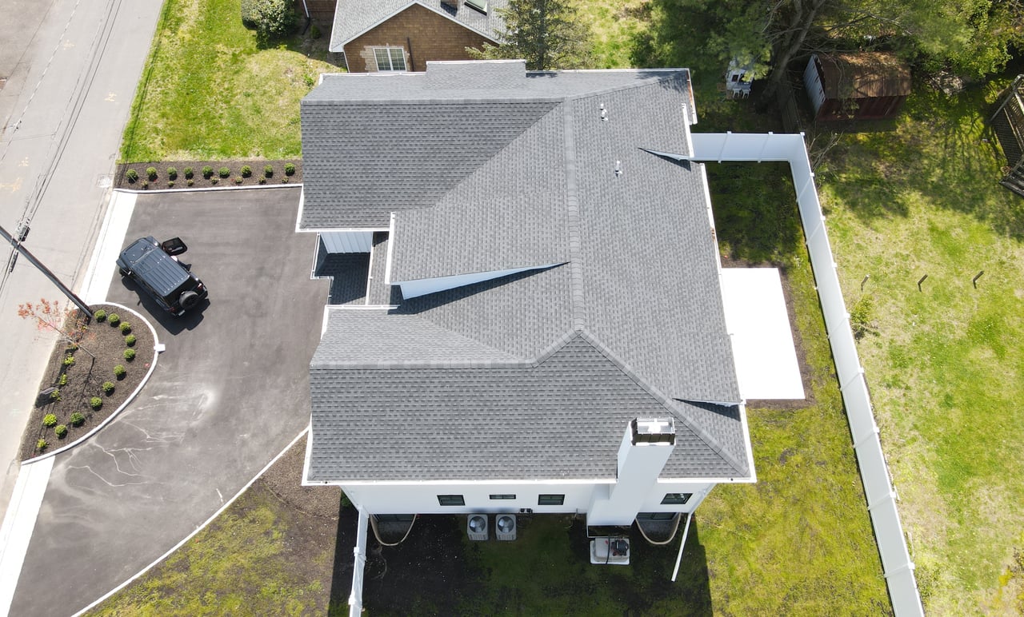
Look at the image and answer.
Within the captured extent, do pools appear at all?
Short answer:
No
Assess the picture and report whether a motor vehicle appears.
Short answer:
Yes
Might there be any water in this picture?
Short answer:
No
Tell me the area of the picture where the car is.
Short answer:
left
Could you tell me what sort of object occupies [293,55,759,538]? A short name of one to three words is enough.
house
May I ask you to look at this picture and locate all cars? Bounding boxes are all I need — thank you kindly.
[120,237,210,319]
